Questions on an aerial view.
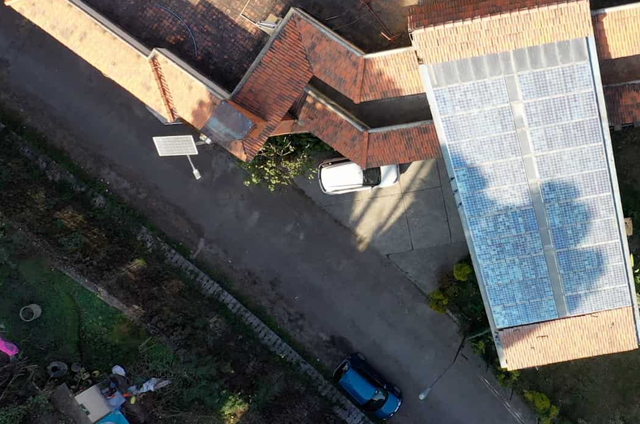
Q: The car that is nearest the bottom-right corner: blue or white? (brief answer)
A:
blue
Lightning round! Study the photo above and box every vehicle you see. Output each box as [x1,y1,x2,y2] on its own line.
[334,352,405,423]
[318,161,399,197]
